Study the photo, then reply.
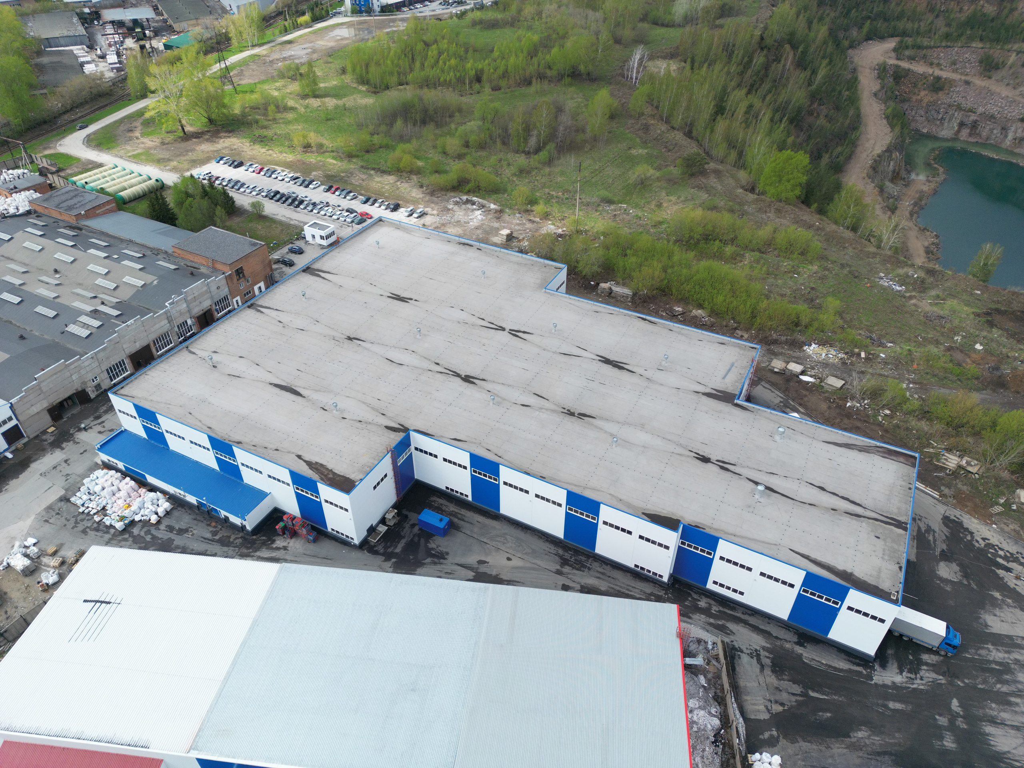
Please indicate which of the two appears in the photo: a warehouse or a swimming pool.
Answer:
warehouse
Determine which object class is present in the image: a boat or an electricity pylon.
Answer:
electricity pylon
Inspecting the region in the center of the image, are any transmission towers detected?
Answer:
No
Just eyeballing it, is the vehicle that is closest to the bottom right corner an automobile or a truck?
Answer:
truck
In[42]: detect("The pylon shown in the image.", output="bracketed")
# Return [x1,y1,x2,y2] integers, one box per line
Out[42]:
[213,32,242,93]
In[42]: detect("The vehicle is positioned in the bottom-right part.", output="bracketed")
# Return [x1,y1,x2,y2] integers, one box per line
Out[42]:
[888,606,967,659]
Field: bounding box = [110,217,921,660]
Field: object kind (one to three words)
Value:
warehouse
